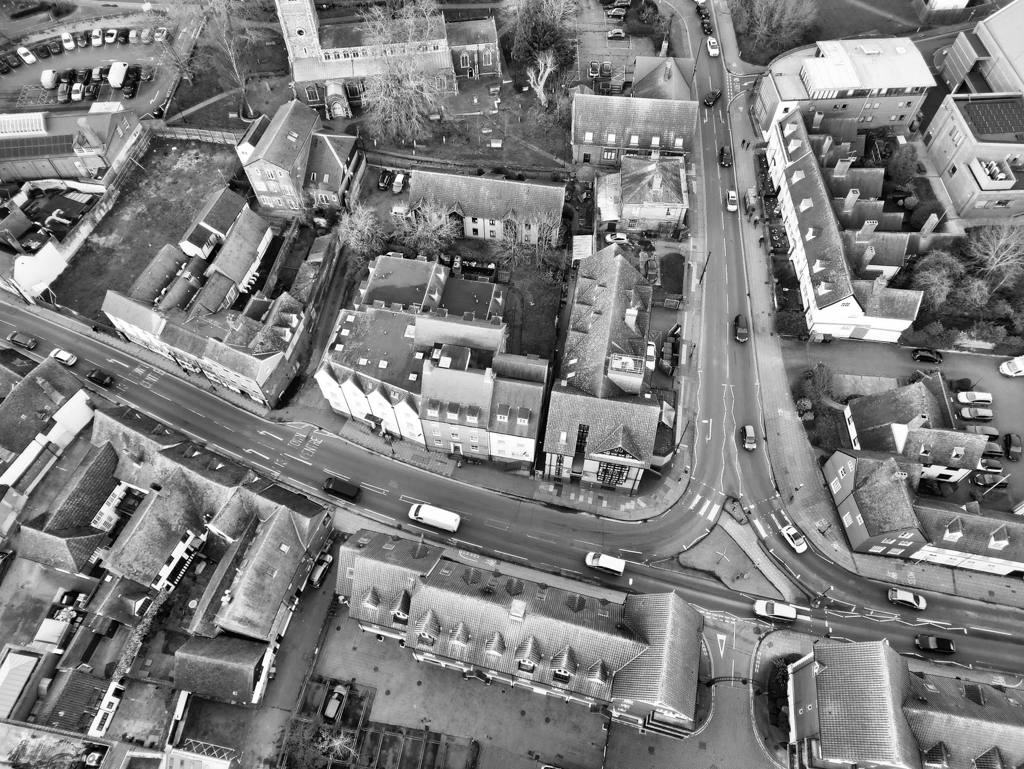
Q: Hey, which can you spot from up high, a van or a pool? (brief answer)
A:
van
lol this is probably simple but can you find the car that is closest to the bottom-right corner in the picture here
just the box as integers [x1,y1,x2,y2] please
[913,631,960,655]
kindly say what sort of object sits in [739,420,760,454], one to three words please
car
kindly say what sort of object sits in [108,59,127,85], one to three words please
vehicle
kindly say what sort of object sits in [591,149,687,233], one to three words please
house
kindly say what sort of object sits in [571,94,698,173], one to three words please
building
